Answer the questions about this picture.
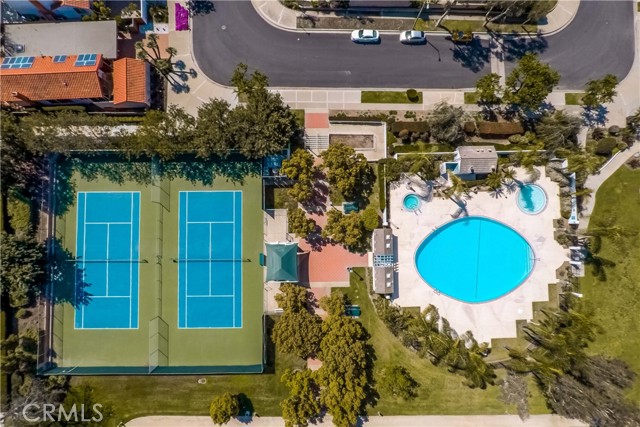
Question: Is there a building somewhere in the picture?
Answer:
Yes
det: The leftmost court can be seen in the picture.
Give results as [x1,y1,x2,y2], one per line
[50,153,160,366]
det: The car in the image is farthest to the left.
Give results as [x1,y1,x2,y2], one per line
[351,31,378,44]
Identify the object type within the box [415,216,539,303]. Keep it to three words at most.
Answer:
swimming pool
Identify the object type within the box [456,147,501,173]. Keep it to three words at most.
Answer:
building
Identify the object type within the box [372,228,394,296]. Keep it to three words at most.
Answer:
building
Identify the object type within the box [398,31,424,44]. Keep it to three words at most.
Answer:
vehicle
